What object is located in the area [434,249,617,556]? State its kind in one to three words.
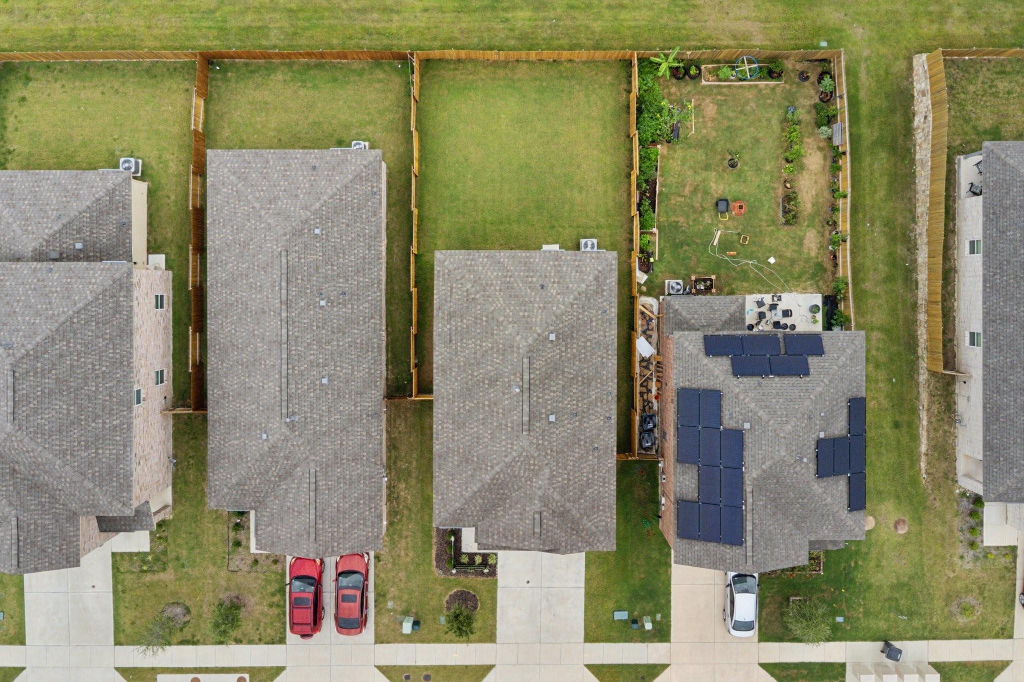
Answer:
house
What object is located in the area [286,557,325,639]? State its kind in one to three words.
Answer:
car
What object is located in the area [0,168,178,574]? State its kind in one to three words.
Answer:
house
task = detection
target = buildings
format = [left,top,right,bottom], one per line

[207,147,387,560]
[434,249,617,556]
[0,168,178,574]
[952,141,1024,535]
[655,296,865,574]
